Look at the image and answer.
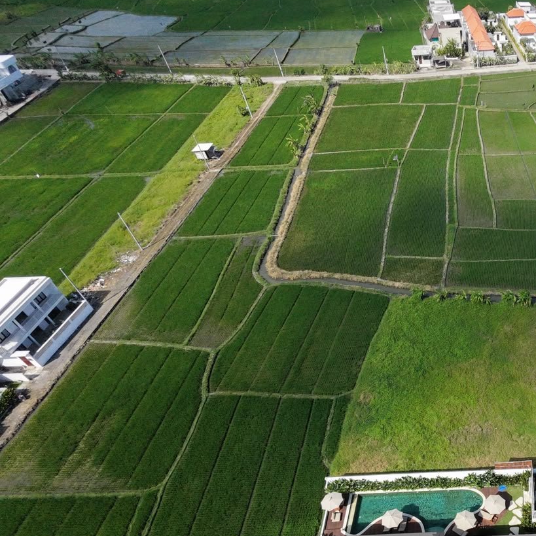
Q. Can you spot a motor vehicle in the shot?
No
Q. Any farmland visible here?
Yes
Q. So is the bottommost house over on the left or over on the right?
left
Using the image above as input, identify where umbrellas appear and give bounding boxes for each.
[483,494,505,515]
[454,511,477,533]
[322,492,345,512]
[381,509,403,530]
